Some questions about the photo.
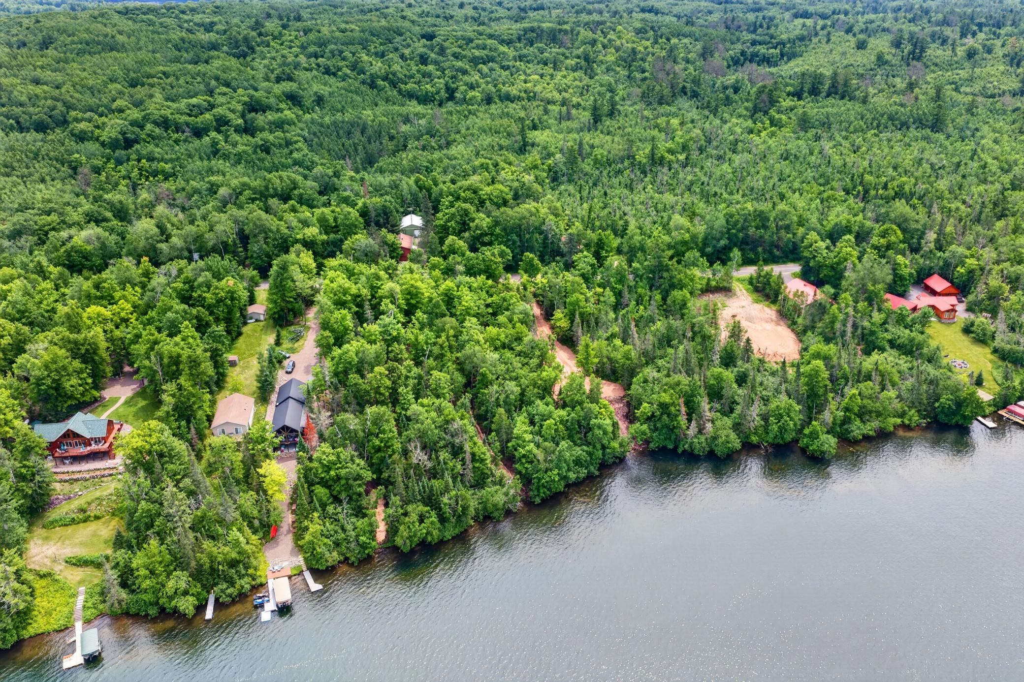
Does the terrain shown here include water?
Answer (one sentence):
Yes, water can be seen from above here.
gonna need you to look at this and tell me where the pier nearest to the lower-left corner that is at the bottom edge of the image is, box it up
[62,621,85,672]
